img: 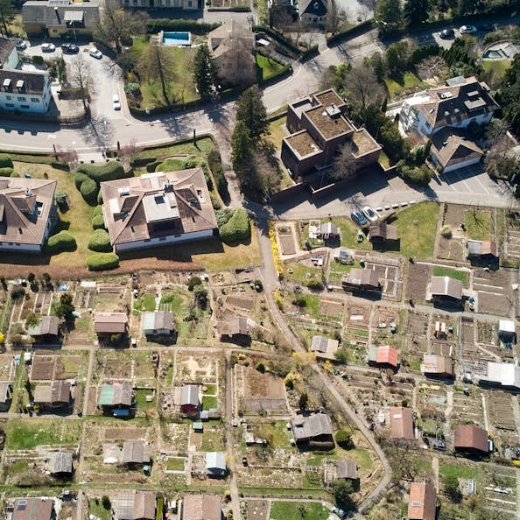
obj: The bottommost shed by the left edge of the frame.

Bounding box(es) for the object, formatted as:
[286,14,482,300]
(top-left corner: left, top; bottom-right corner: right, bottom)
[13,497,57,520]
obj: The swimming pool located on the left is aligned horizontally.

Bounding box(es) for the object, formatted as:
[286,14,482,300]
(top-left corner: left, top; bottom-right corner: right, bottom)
[160,32,194,45]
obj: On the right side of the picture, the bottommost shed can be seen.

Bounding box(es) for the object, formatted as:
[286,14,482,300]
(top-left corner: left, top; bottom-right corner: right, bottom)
[409,483,438,520]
